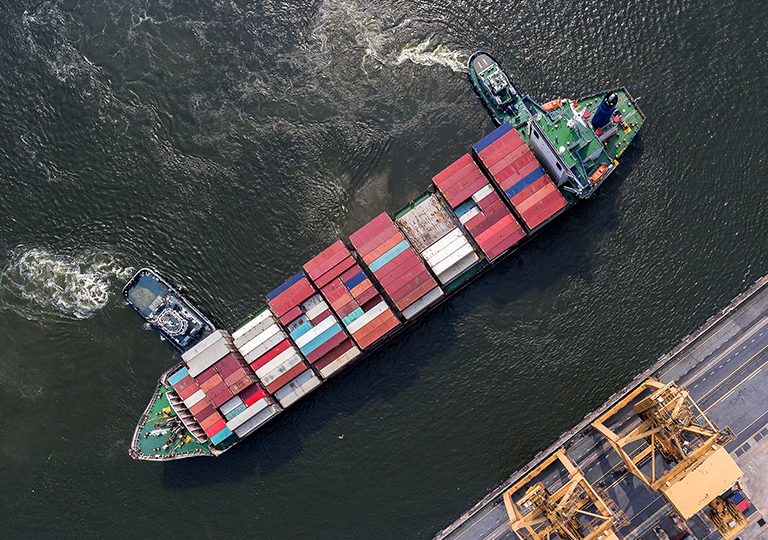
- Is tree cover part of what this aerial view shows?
No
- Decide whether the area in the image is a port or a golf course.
port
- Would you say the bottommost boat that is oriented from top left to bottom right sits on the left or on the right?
left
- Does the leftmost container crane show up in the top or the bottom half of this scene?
bottom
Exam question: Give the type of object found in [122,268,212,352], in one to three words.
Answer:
boat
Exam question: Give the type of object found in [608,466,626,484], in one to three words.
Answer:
work vehicle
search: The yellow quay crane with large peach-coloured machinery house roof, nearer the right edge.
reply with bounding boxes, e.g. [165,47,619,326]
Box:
[590,377,751,540]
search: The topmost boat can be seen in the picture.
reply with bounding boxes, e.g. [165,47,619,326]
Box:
[466,48,528,128]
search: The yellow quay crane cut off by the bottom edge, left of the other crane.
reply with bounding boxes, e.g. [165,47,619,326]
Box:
[502,447,628,540]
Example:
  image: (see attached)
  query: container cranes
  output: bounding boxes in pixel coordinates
[502,447,628,540]
[590,377,751,540]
